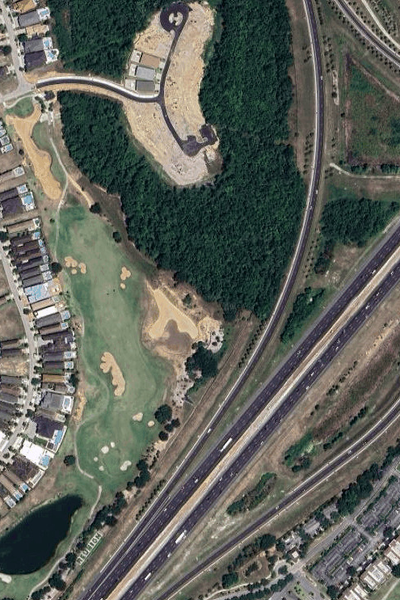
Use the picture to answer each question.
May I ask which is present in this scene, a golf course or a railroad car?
golf course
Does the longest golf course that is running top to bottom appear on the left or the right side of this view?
left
